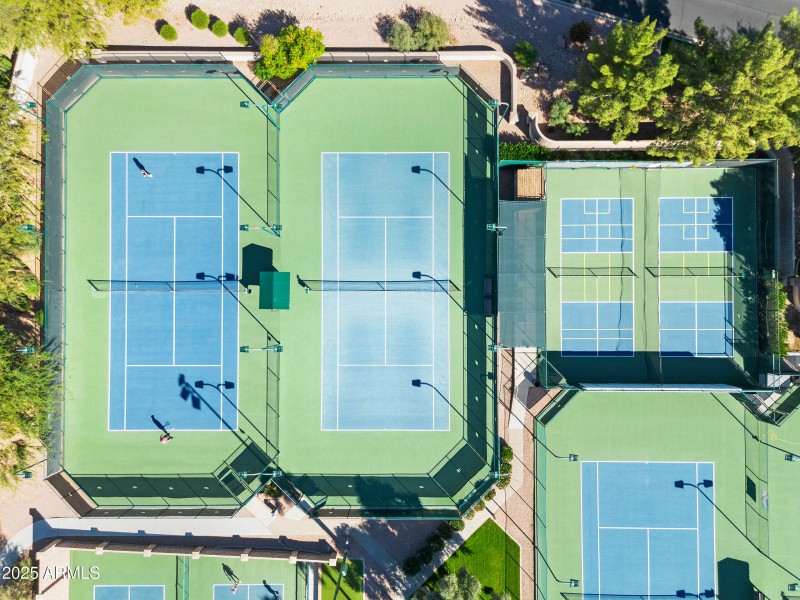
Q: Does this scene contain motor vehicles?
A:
No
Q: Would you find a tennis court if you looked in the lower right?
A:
Yes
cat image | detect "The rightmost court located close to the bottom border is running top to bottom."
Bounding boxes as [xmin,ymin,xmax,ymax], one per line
[760,387,800,600]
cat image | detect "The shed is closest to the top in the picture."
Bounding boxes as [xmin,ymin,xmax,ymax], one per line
[514,168,543,200]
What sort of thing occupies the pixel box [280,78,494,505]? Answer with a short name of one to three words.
tennis court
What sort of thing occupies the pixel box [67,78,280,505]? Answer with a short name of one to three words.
tennis court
